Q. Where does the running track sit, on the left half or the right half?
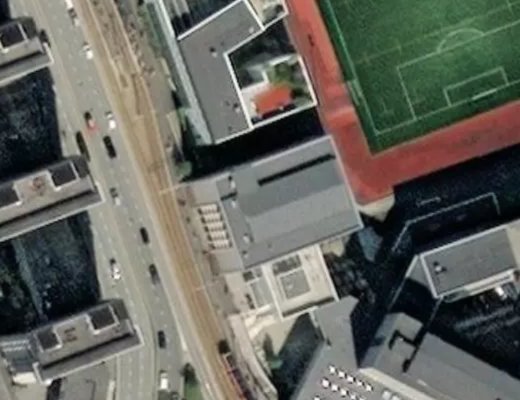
right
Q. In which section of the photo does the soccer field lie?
top right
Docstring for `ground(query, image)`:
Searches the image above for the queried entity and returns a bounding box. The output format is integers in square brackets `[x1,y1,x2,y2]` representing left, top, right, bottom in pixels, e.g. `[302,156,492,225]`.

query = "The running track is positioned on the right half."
[287,0,520,201]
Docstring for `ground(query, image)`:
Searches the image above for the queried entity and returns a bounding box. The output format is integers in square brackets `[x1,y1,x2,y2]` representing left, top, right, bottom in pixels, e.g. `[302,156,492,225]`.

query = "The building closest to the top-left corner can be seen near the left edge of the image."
[0,19,53,84]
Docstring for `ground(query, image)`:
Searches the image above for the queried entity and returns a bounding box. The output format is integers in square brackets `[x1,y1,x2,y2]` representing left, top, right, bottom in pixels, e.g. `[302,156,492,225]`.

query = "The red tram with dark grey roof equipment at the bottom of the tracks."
[221,353,249,400]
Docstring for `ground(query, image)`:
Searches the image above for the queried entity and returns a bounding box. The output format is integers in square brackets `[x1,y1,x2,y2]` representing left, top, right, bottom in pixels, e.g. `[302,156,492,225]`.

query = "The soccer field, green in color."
[319,0,520,155]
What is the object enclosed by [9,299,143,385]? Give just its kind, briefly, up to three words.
building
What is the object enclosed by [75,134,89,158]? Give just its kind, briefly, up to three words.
vehicle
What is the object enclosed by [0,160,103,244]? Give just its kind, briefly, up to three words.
building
